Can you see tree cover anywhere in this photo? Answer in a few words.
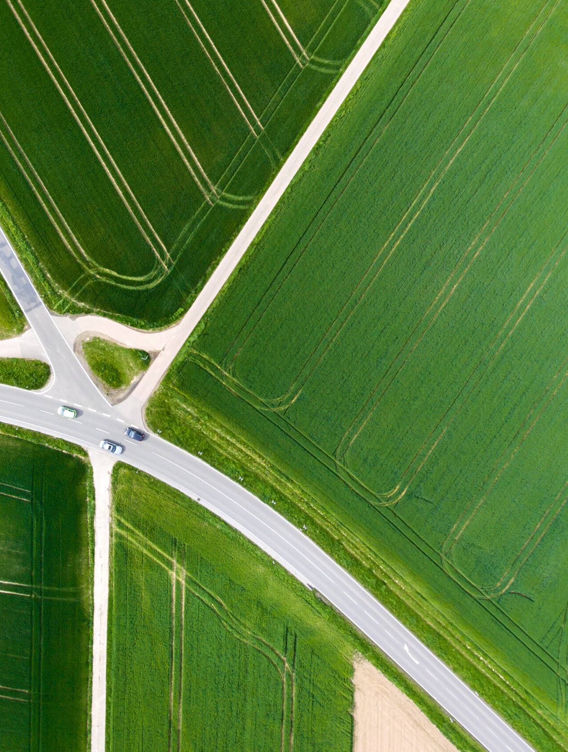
No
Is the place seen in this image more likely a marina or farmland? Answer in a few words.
farmland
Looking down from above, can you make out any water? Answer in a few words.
No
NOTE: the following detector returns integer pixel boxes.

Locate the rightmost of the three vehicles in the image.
[124,427,146,443]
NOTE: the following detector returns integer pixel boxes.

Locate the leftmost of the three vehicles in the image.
[57,406,77,419]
